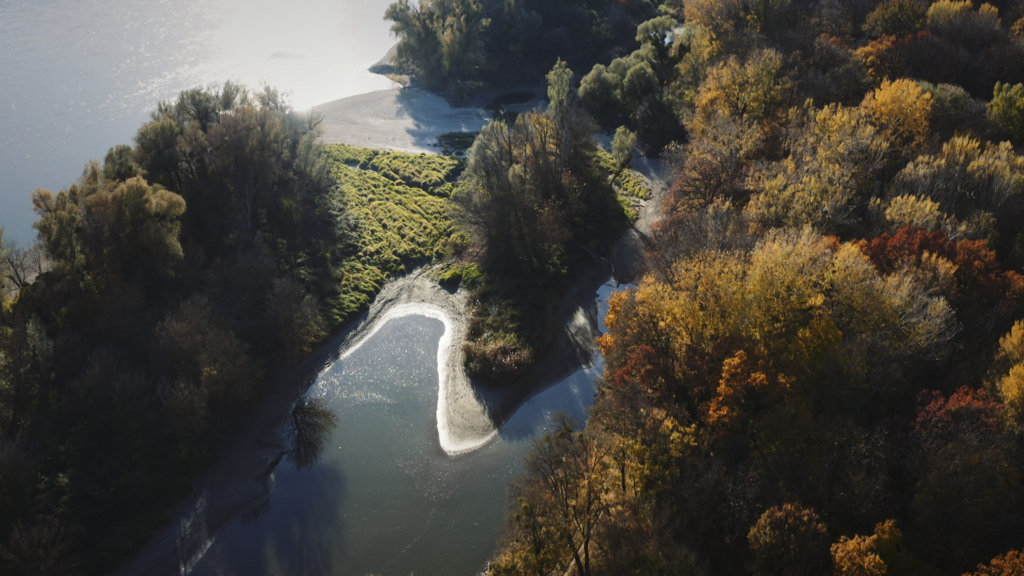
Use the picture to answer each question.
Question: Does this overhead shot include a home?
No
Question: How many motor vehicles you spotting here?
0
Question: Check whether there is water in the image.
Yes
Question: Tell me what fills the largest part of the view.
trees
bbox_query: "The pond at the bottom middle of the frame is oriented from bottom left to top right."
[183,278,629,576]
